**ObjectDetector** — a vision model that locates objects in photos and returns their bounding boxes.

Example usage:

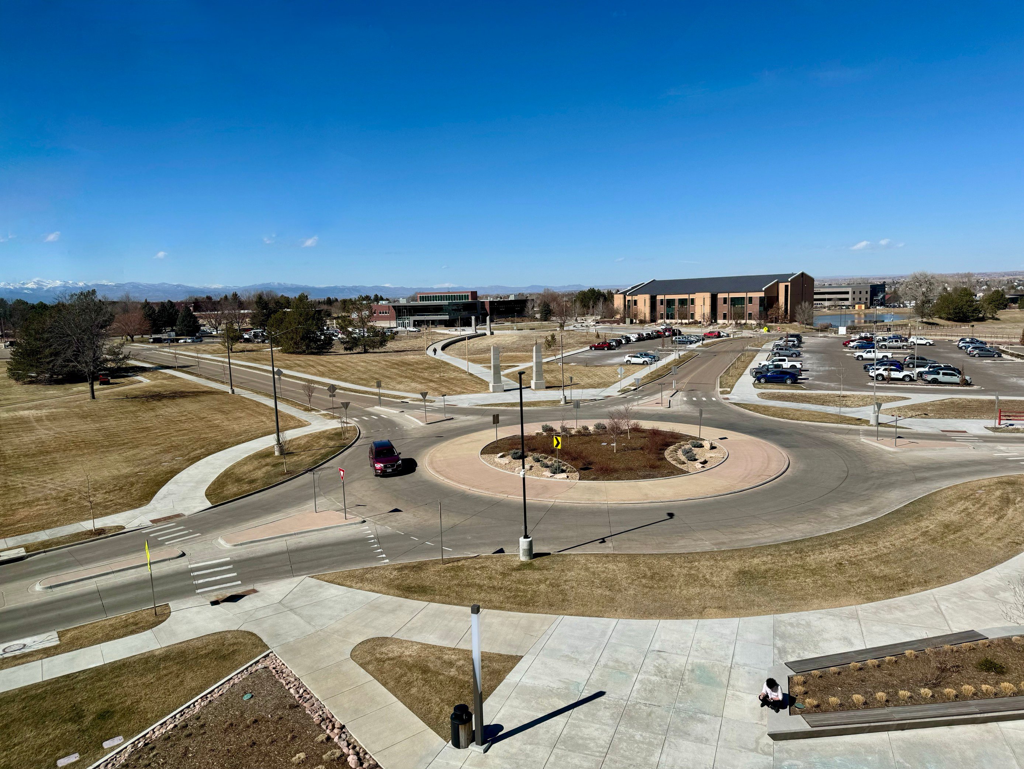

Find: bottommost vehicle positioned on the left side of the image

[365,436,402,472]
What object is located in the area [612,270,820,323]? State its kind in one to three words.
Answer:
building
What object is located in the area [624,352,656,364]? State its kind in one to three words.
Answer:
vehicle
